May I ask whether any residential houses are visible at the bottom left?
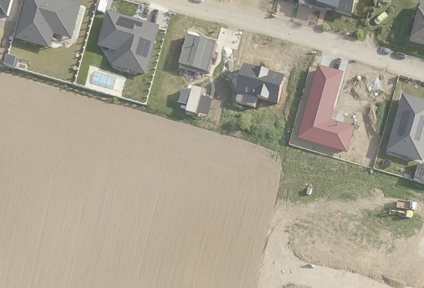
No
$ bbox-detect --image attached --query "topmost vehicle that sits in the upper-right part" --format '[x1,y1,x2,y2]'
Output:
[374,12,388,24]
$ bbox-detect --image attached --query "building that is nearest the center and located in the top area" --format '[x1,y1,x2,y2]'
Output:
[177,85,212,115]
